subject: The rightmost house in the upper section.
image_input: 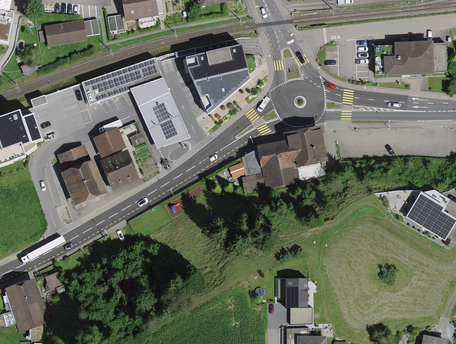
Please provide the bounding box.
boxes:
[384,41,447,78]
